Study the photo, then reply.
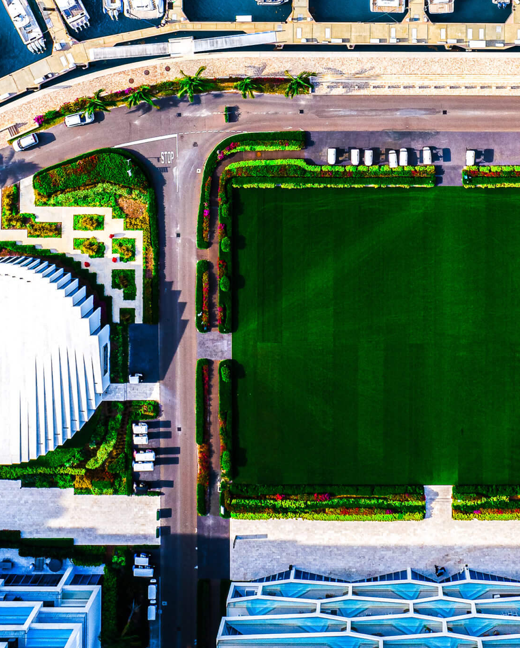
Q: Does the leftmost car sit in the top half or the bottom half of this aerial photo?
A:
top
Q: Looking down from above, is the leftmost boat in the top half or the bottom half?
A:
top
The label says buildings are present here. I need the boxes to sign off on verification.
[216,564,520,648]
[0,254,110,467]
[0,566,118,648]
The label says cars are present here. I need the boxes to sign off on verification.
[64,111,96,127]
[12,131,42,152]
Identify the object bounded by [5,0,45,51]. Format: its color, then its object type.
white boat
